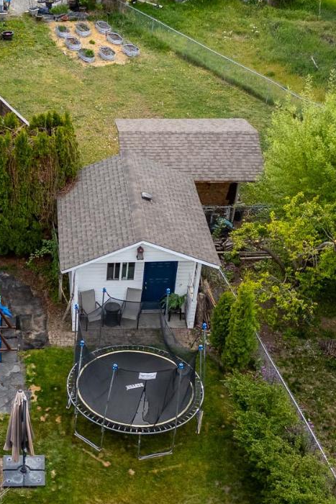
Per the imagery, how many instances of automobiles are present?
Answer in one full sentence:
The count of automobiles is 0.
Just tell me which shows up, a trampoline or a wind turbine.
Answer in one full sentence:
Looking from above, you can make out a trampoline.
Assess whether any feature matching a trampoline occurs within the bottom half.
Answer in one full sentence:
Yes, there is a trampoline within the bottom half.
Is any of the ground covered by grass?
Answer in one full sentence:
Yes, there is grass in the image.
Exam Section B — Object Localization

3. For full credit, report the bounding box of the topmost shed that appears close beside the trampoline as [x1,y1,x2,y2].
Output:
[110,107,262,228]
